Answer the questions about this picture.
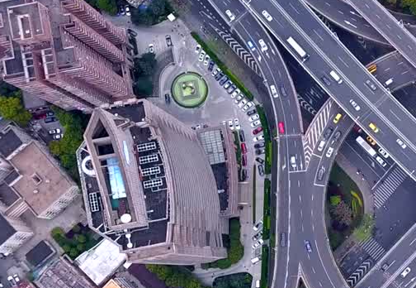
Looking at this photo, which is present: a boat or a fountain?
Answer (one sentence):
The image shows a fountain.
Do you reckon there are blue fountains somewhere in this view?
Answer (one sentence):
No, no blue fountain can be seen from above.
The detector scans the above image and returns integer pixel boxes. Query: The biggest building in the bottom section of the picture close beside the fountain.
[76,99,217,257]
